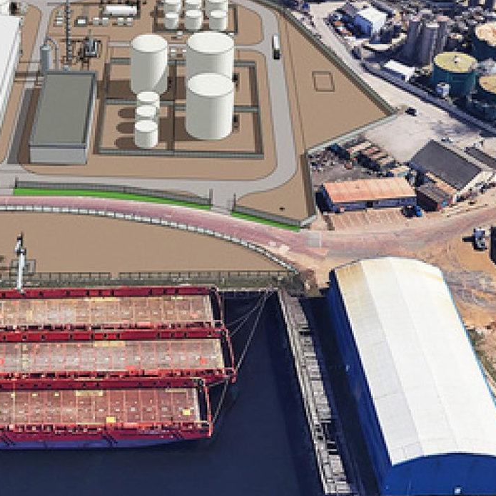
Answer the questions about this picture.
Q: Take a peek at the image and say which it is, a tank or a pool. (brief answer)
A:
tank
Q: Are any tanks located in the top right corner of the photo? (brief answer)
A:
Yes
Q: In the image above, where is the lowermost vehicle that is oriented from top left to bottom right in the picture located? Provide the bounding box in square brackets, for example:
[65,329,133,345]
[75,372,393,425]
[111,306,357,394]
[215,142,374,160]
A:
[471,228,495,255]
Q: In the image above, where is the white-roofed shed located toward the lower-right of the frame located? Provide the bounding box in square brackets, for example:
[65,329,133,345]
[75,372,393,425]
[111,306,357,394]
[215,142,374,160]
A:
[328,256,496,495]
